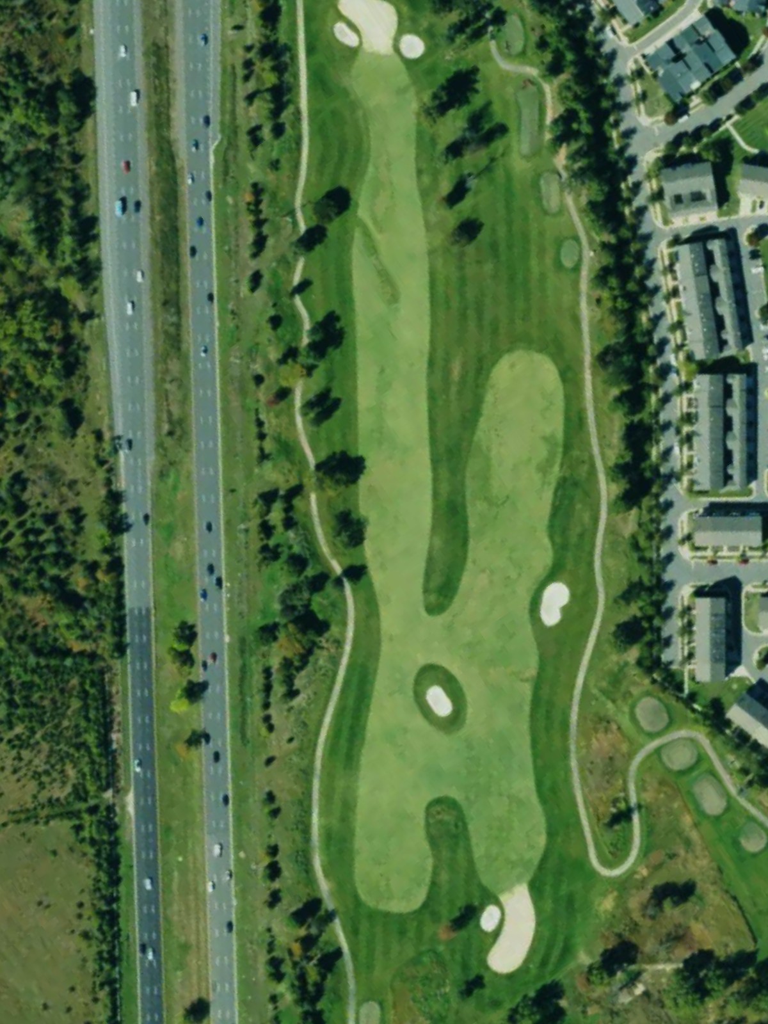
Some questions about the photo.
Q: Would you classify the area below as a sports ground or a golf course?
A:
golf course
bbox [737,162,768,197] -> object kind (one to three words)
house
